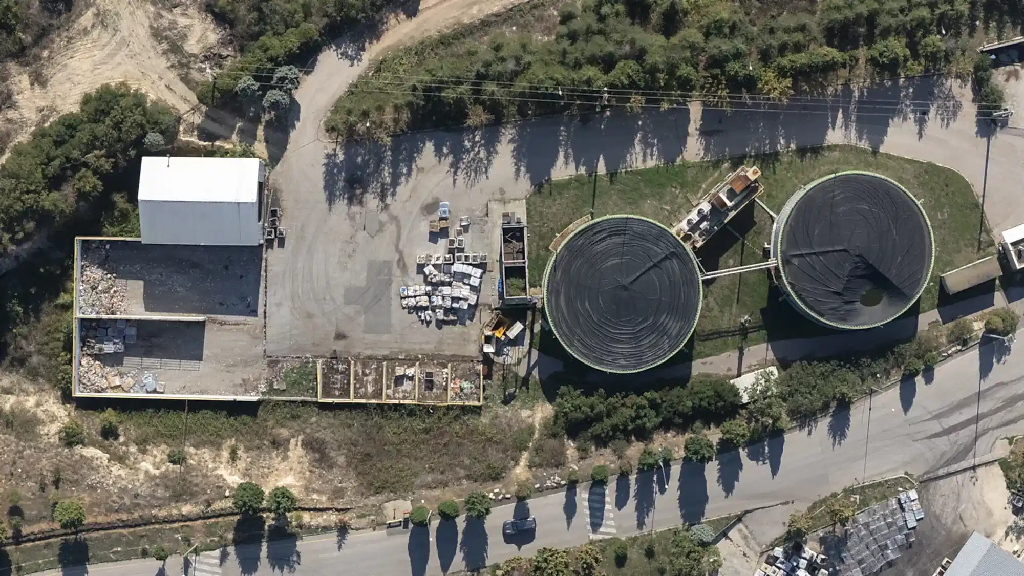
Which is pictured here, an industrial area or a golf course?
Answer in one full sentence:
This image shows an industrial area.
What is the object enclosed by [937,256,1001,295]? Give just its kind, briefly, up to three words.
shed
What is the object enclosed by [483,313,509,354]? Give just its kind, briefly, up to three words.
work vehicle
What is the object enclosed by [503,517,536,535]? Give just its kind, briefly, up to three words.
car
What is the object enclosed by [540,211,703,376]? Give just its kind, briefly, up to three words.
storage tank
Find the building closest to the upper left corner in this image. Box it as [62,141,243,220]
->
[136,156,268,246]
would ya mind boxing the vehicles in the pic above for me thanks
[503,517,536,535]
[483,313,509,354]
